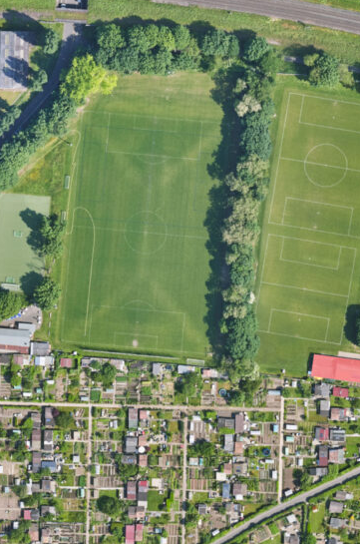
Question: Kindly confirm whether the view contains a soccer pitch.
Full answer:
Yes, a soccer pitch is visible in the scene.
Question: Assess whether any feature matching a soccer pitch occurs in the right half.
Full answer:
Yes, I can see a soccer pitch in the right half.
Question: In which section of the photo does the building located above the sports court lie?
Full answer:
The building located above the sports court is in the top left part of the image.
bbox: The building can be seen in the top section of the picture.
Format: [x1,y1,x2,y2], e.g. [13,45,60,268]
[0,30,28,89]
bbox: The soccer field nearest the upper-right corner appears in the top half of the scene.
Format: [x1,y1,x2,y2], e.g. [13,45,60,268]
[267,91,360,239]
